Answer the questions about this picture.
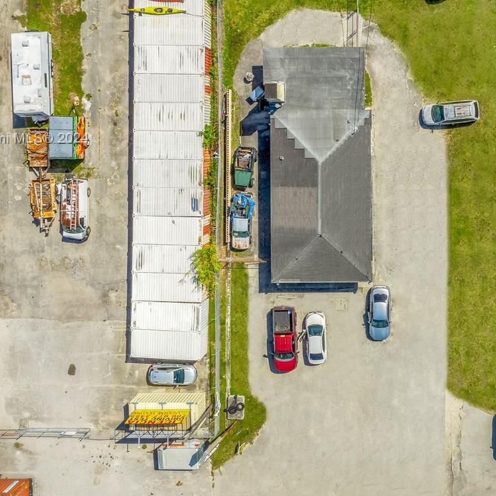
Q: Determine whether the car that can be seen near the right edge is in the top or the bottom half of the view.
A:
top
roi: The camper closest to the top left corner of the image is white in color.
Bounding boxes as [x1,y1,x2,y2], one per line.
[11,33,60,129]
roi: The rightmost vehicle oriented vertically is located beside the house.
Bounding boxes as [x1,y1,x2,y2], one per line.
[366,286,392,342]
